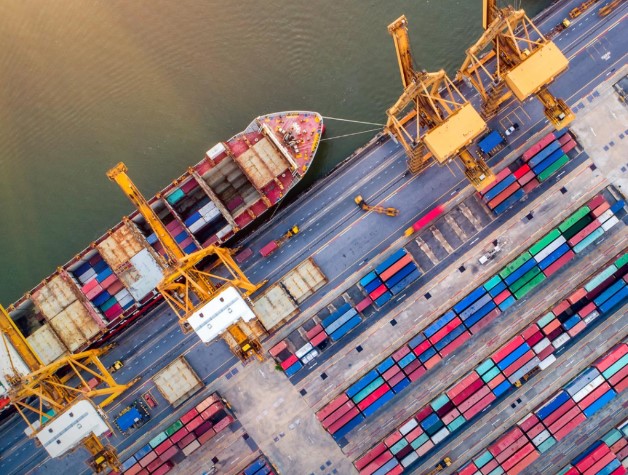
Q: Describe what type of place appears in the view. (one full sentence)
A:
It's a port.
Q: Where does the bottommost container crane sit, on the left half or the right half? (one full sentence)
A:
The bottommost container crane appears in the left half of the scene.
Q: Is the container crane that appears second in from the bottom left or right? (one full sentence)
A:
The container crane that appears second in from the bottom appears in the left half of the scene.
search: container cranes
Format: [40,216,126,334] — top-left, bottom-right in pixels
[373,17,499,192]
[113,164,272,367]
[0,290,142,475]
[444,0,581,129]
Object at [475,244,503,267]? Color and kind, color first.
white truck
